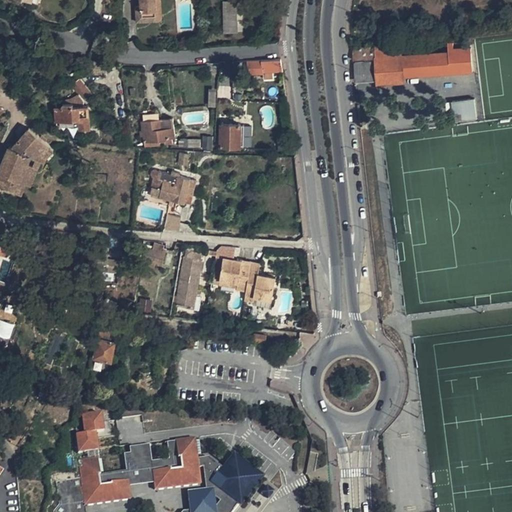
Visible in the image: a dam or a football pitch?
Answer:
football pitch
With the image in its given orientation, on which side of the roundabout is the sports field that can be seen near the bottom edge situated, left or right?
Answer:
right of it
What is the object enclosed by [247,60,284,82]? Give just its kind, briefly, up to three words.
house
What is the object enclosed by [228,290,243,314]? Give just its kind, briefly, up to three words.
swimming pool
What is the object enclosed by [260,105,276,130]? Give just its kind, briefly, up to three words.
swimming pool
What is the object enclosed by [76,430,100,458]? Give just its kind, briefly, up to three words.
building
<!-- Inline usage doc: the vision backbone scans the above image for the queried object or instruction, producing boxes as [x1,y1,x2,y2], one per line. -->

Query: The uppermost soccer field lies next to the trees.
[476,34,512,120]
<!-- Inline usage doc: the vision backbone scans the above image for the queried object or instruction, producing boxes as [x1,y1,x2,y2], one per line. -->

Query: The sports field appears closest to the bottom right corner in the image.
[414,324,512,512]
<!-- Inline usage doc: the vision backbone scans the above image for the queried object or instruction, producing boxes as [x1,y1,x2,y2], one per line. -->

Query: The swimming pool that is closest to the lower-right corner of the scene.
[269,288,294,316]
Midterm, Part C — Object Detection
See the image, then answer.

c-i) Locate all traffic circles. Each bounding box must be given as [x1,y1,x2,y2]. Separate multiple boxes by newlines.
[318,353,382,417]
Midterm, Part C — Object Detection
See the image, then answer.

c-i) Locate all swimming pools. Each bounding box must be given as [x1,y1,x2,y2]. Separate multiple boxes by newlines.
[176,0,195,32]
[137,202,167,226]
[0,257,11,284]
[268,86,279,98]
[182,110,208,126]
[260,105,276,130]
[269,288,294,316]
[66,452,74,467]
[228,290,243,314]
